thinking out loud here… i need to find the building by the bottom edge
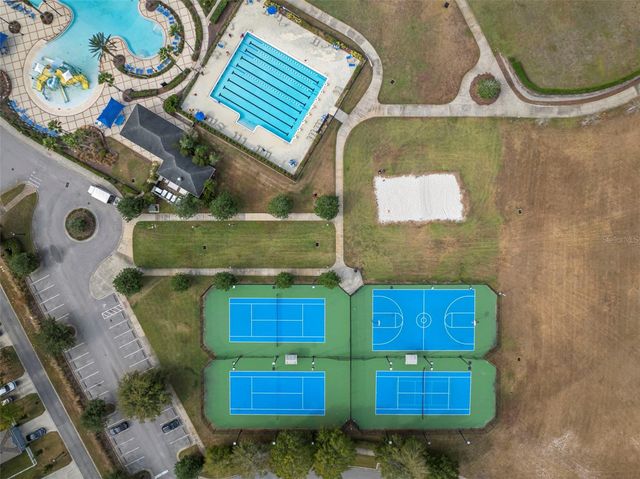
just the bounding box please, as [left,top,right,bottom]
[0,422,35,465]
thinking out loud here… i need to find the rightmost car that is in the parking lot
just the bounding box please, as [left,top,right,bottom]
[161,418,182,432]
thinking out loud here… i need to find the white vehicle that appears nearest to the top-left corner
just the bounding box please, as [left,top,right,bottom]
[88,185,120,204]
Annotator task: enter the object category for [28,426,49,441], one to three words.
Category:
car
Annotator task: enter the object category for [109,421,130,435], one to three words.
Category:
car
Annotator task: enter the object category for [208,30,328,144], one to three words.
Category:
swimming pool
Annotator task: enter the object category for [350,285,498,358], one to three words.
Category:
basketball court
